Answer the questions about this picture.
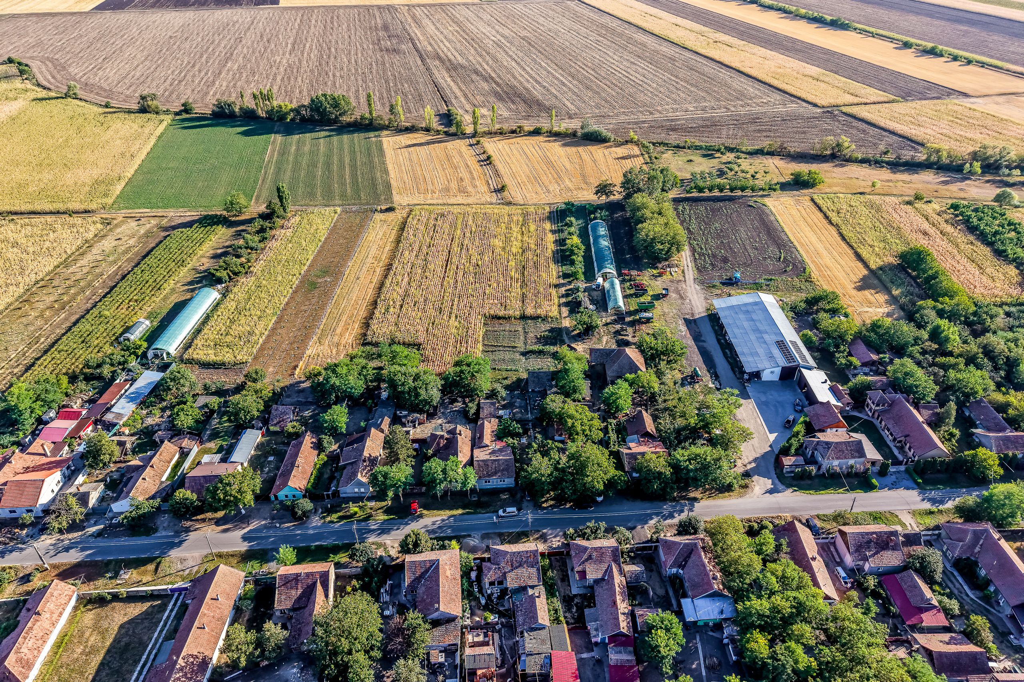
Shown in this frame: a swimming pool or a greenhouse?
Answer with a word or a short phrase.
greenhouse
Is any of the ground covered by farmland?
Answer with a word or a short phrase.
Yes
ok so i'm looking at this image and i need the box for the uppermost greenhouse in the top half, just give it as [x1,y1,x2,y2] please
[589,217,617,278]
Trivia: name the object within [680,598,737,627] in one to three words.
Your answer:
shed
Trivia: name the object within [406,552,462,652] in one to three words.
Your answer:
house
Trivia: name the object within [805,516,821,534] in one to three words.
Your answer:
car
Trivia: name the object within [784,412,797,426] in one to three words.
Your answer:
vehicle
